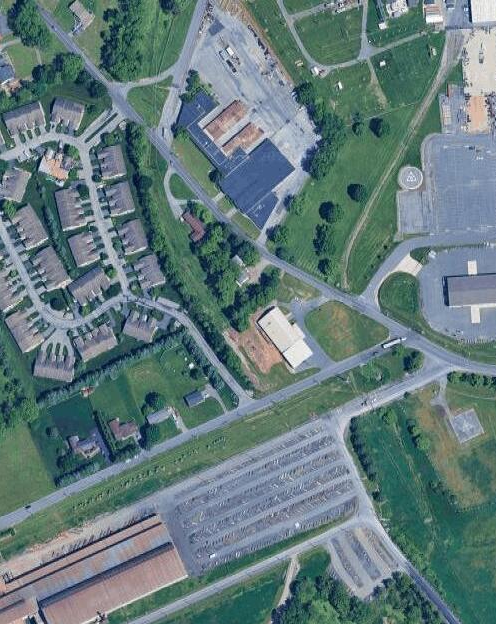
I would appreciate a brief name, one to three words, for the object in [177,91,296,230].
building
